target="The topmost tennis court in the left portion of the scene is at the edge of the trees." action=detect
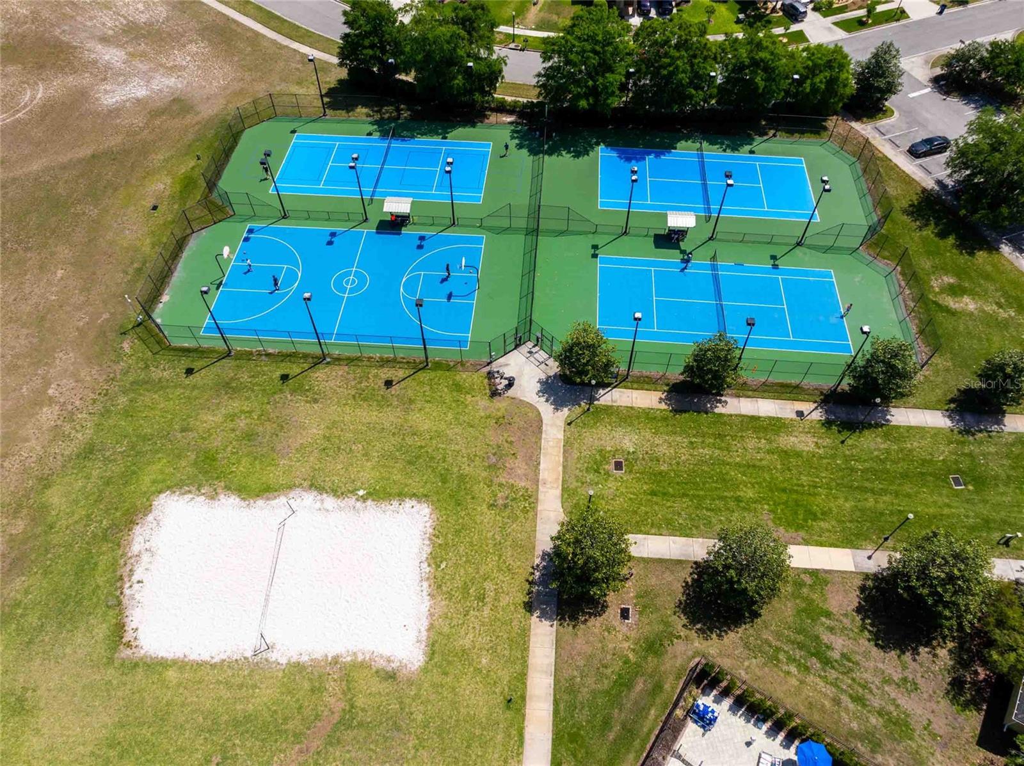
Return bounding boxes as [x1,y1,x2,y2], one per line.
[212,116,546,230]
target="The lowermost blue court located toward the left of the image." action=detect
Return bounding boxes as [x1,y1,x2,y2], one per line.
[151,213,539,362]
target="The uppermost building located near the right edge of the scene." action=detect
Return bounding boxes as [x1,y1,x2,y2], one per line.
[993,665,1024,739]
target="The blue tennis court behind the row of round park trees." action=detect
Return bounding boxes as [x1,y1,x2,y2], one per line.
[530,230,924,387]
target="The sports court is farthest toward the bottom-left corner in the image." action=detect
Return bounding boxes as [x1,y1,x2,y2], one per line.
[119,488,432,676]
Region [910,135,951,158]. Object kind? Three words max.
car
